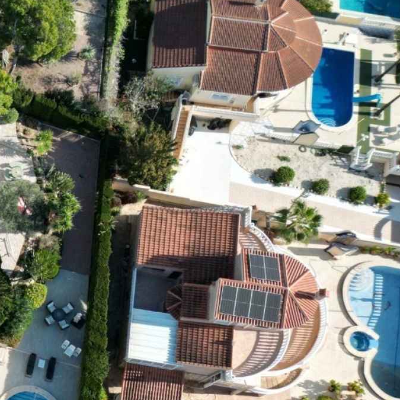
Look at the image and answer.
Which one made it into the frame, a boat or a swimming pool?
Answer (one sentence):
I can see a swimming pool in this picture.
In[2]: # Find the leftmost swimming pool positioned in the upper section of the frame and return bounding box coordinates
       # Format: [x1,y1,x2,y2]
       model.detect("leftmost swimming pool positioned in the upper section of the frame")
[307,44,359,131]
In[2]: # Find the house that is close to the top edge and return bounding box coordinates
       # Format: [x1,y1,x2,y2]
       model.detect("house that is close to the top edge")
[142,0,323,126]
